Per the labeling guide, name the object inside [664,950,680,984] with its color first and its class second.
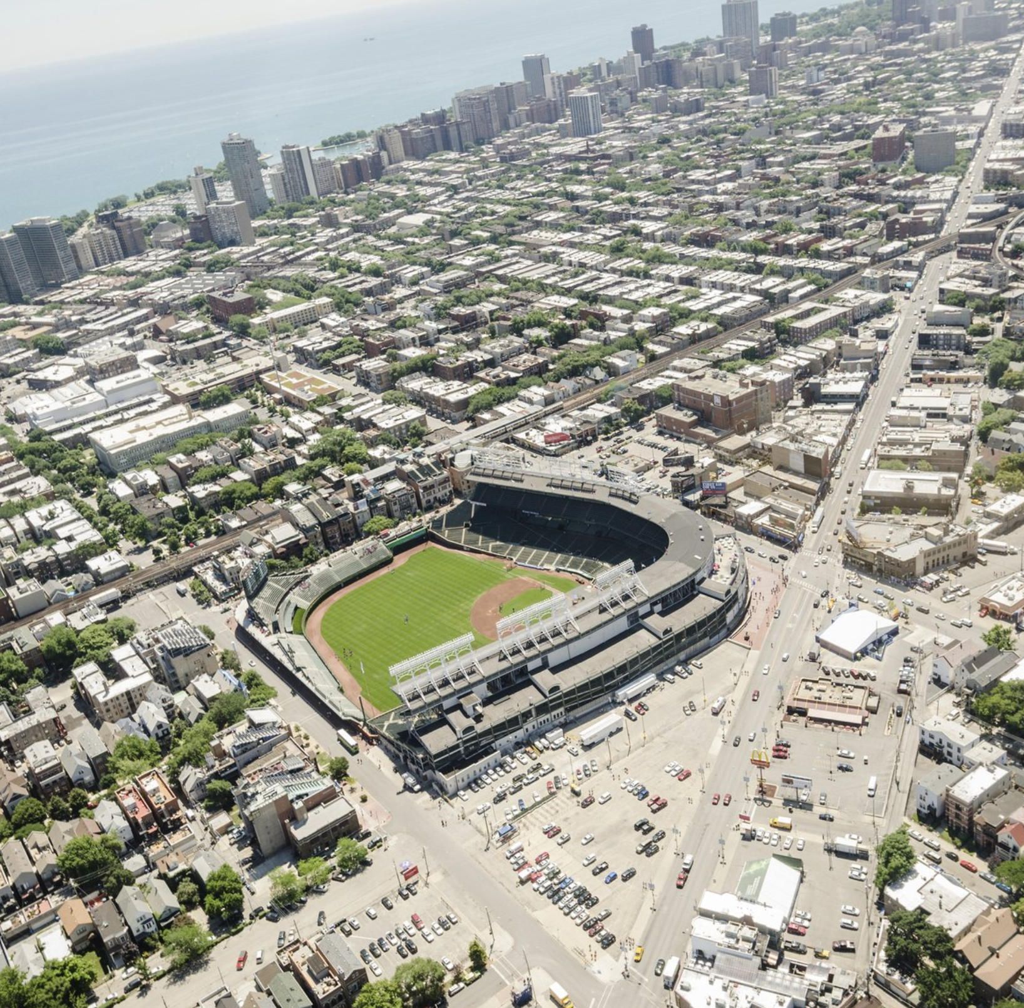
white vehicle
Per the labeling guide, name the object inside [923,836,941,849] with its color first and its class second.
white vehicle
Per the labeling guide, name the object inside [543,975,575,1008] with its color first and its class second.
white bus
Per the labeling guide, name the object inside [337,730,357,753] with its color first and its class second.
white bus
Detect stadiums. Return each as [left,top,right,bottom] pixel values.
[233,447,752,798]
